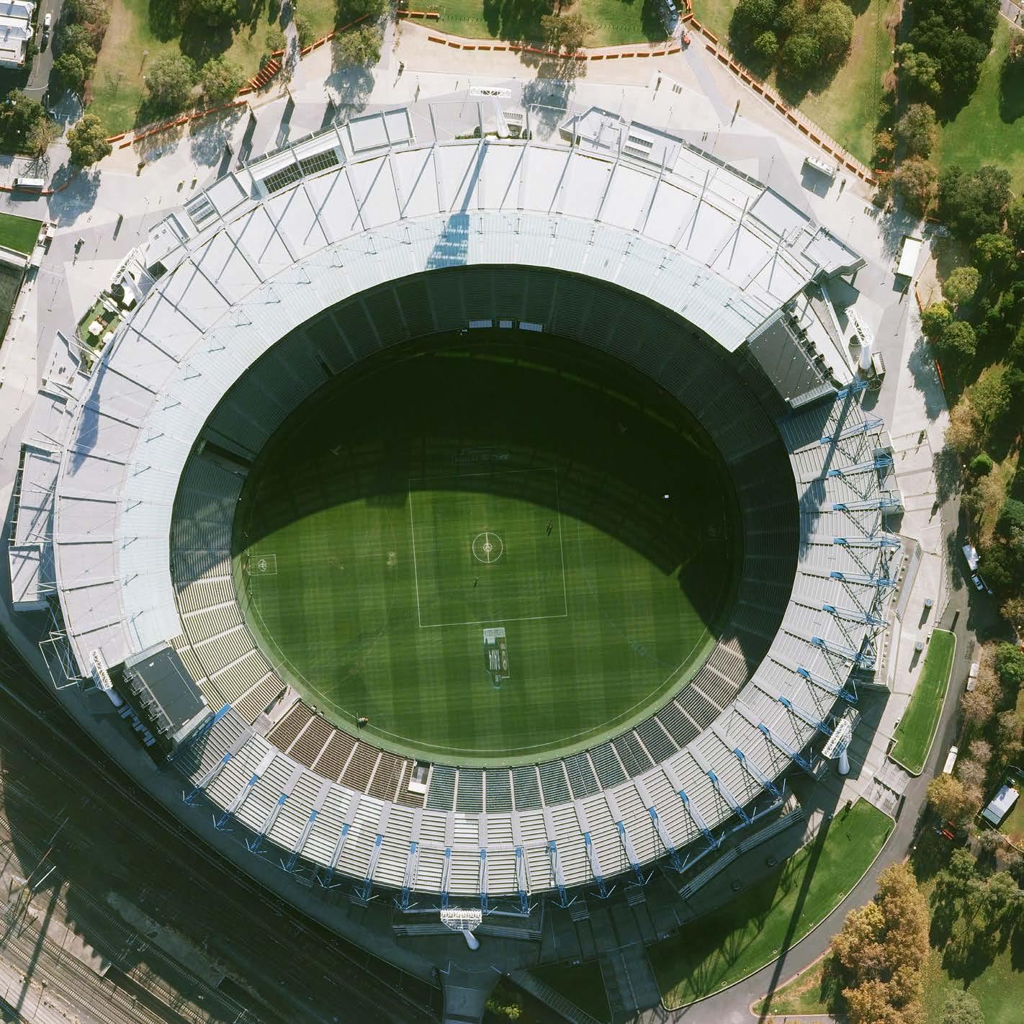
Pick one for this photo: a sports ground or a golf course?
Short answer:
sports ground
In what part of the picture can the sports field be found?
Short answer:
center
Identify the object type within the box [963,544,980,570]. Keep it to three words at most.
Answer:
vehicle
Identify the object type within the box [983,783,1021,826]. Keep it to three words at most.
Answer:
shed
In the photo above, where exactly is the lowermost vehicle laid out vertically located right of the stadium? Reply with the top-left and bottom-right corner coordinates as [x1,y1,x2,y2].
[944,747,957,774]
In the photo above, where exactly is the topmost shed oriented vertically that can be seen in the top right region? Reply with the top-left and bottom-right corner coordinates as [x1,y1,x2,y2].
[897,237,922,278]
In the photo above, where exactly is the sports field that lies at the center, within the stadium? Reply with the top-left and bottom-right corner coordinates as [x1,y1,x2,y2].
[231,327,743,767]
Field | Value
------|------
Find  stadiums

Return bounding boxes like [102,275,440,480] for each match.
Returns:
[7,97,902,914]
